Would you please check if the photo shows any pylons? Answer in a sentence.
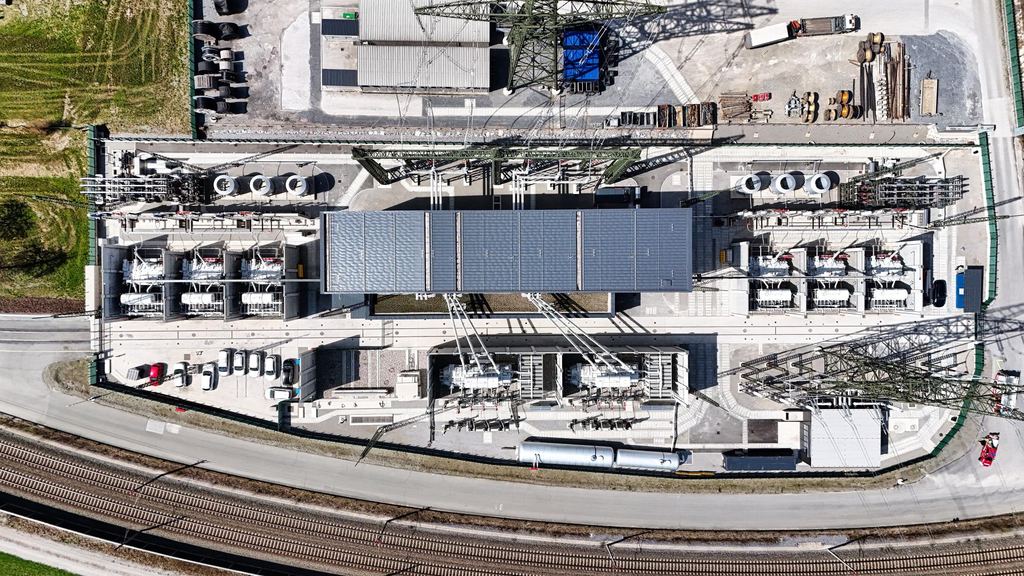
Yes, you can see a pylon in this photo.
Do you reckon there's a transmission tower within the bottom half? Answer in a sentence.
Yes, I can see a transmission tower within the bottom half.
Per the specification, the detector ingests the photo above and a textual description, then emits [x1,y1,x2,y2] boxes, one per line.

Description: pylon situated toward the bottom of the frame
[805,343,1024,429]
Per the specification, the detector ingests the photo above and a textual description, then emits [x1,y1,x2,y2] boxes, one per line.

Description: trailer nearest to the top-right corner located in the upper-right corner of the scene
[919,69,939,116]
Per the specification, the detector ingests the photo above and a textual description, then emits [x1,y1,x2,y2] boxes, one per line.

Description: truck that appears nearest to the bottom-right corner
[975,430,999,468]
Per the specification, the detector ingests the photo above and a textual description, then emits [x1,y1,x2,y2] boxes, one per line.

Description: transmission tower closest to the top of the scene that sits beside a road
[410,0,670,97]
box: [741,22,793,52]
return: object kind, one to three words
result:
trailer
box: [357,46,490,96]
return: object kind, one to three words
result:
shed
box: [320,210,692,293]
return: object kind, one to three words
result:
building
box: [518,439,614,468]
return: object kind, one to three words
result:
storage tank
